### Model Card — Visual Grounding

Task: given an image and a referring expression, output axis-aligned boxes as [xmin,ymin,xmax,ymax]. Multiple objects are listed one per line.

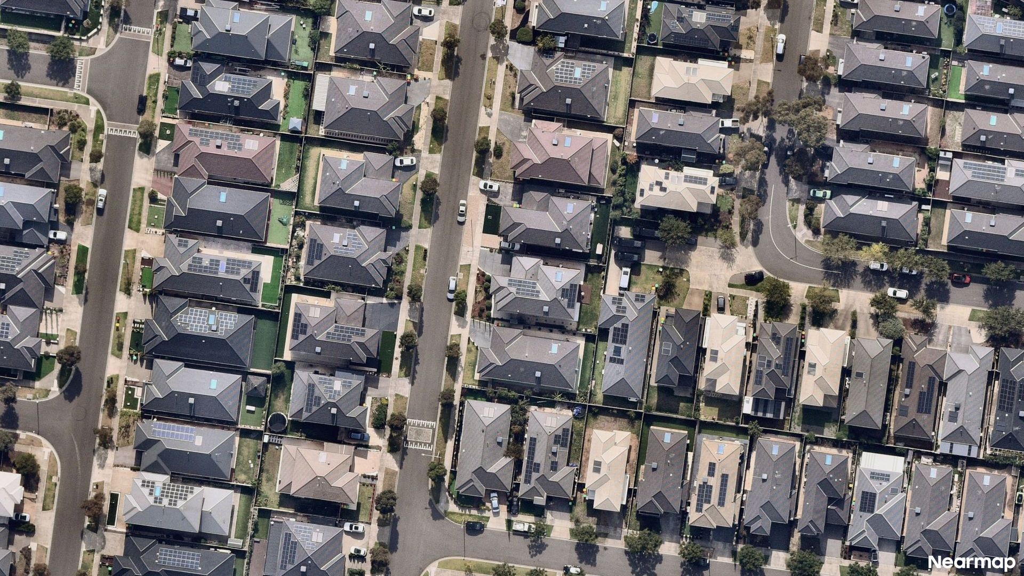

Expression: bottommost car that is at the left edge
[11,511,33,523]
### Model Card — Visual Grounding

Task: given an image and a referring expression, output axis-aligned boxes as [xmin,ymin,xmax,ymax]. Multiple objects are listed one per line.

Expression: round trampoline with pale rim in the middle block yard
[268,412,287,431]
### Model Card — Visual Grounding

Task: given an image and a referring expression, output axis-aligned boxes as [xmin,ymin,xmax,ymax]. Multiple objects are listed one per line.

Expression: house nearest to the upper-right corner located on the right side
[965,13,1024,54]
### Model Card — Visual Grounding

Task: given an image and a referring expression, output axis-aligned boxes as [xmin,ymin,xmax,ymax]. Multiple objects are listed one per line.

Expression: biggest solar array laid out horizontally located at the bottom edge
[157,548,203,569]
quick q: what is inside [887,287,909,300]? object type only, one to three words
vehicle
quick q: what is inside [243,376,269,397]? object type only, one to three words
gazebo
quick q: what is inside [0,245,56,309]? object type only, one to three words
house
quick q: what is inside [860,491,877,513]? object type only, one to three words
solar array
